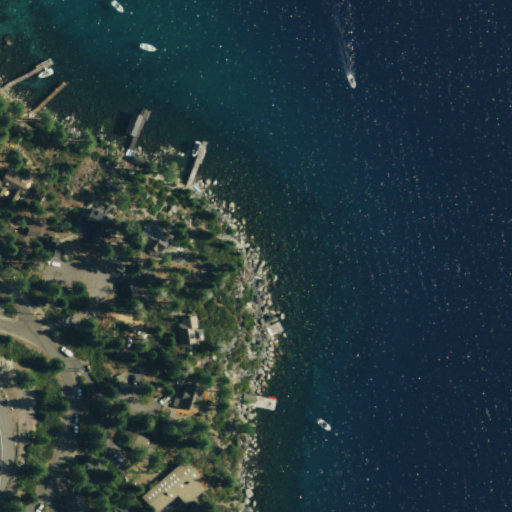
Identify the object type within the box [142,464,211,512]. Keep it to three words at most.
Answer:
building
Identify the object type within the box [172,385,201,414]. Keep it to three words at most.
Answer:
house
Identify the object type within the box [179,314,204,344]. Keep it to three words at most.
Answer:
house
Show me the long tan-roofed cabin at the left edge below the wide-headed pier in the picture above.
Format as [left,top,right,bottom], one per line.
[2,174,34,200]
